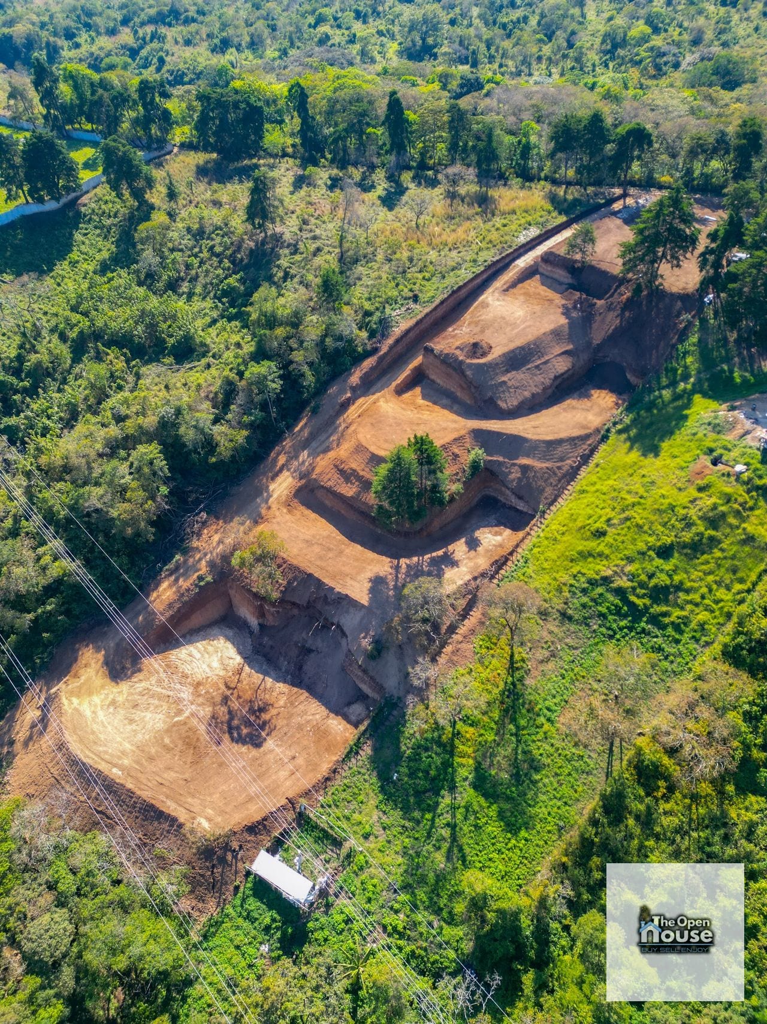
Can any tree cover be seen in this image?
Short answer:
Yes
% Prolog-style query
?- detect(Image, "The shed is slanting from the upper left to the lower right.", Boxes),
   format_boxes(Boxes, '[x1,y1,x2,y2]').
[245,850,313,923]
